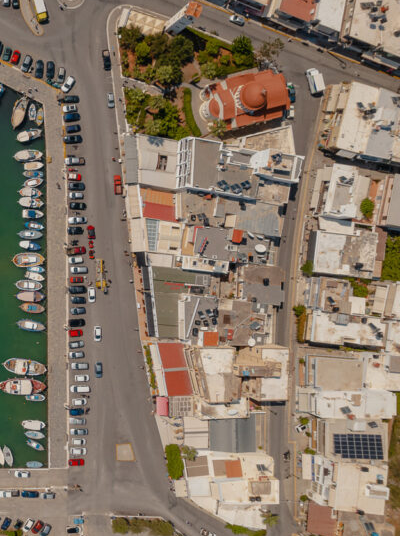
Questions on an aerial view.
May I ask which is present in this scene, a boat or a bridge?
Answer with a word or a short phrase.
boat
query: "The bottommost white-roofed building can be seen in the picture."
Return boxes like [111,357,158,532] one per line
[189,495,267,529]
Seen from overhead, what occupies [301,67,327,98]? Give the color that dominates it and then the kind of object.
white truck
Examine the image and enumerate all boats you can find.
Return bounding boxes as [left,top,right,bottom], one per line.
[17,230,46,240]
[23,177,45,187]
[19,240,47,251]
[1,358,49,376]
[36,107,44,126]
[26,393,48,402]
[19,302,48,315]
[11,253,46,267]
[14,150,46,162]
[15,290,47,302]
[25,221,47,232]
[0,378,49,395]
[16,318,48,333]
[22,170,46,178]
[22,209,46,218]
[3,445,13,467]
[28,100,36,121]
[19,187,46,197]
[25,436,48,455]
[24,430,46,439]
[25,460,44,467]
[23,162,46,170]
[27,265,47,273]
[12,93,28,129]
[23,270,45,281]
[17,129,46,142]
[18,196,47,208]
[15,280,46,291]
[22,420,46,430]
